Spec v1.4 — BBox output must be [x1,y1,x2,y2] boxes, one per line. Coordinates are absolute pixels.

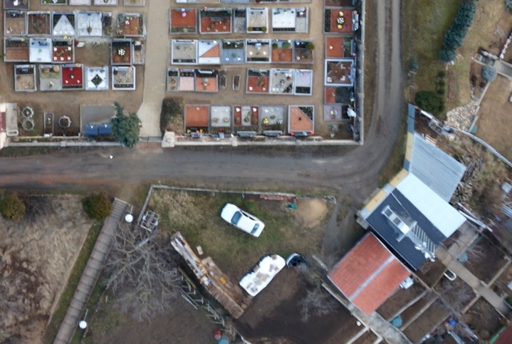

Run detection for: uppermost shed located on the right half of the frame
[406,131,466,202]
